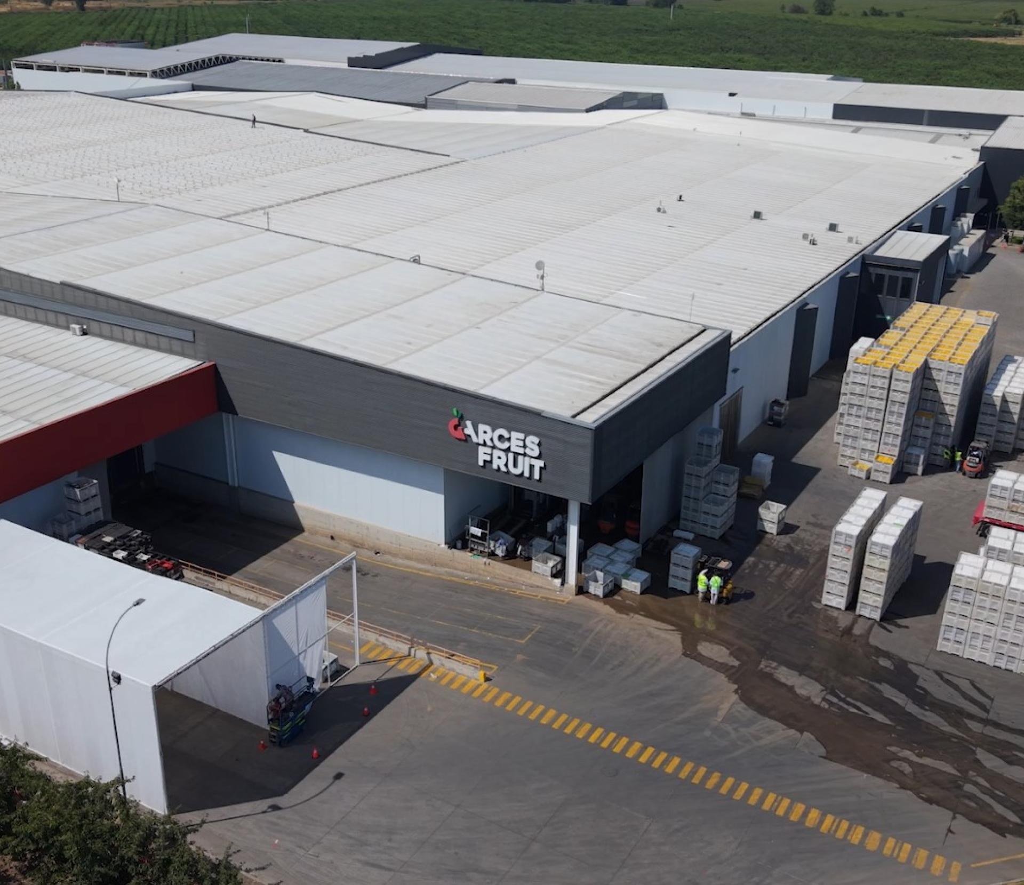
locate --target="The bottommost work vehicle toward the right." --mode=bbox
[691,557,749,605]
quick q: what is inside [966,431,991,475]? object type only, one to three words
work vehicle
